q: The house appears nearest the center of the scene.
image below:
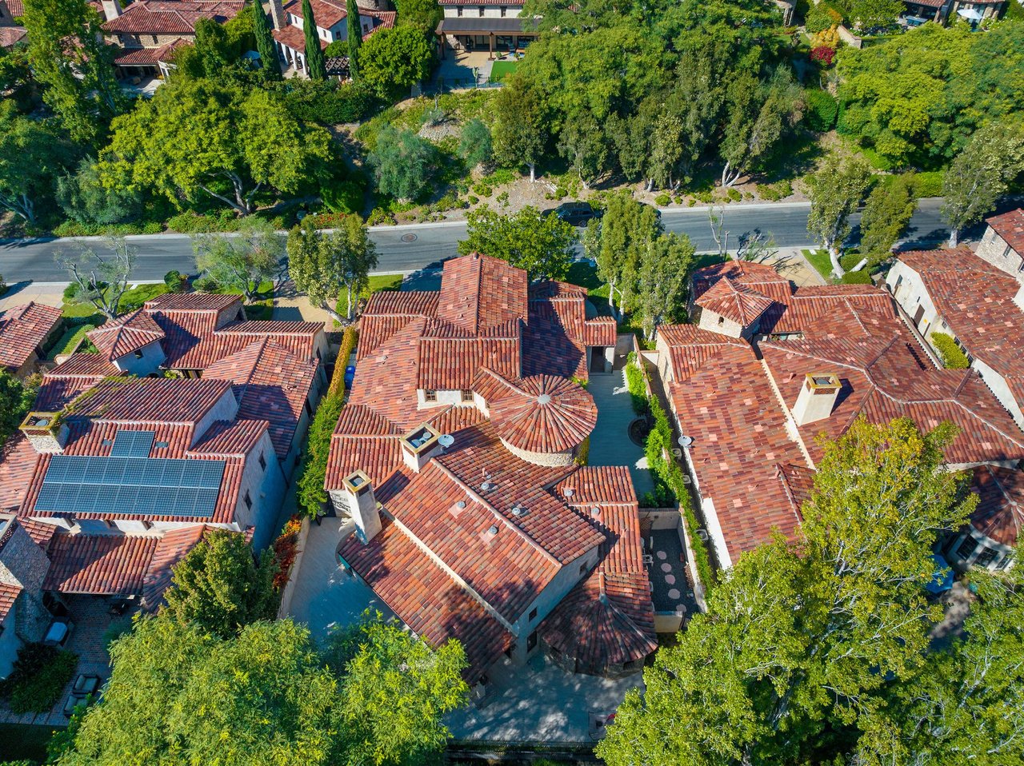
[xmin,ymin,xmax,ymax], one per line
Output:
[324,252,661,703]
